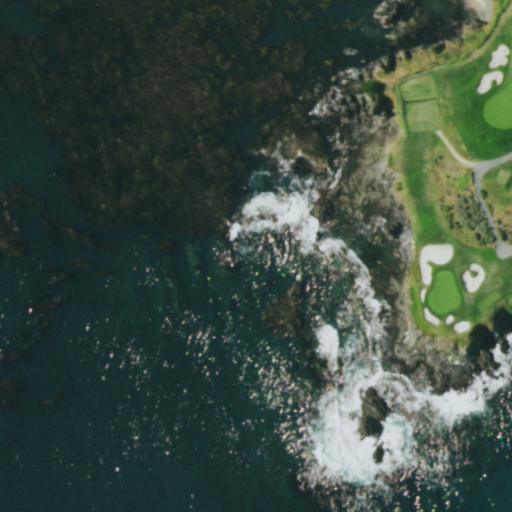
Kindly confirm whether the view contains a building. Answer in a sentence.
No, no building is visible in the view.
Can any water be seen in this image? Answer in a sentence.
Yes, water can be seen from above here.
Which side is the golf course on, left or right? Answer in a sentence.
The golf course appears in the right half of the scene.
